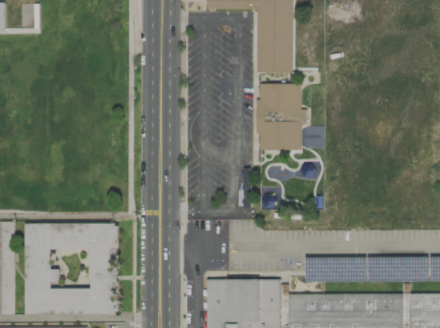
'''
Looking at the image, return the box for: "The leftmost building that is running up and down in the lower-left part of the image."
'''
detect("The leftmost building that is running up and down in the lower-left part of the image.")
[2,222,14,314]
